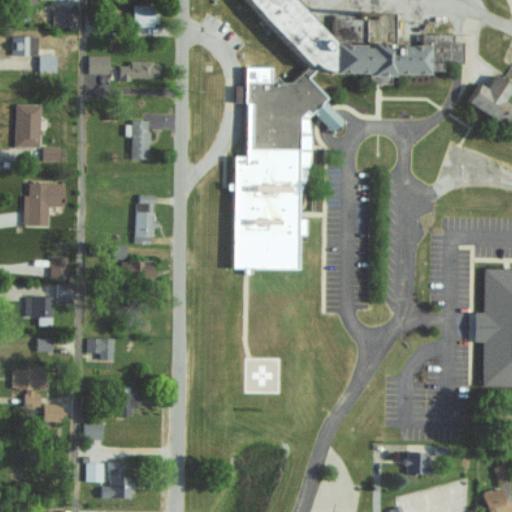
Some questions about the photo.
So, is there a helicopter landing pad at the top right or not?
No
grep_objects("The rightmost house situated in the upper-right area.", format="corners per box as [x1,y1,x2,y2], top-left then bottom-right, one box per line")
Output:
[474,70,512,124]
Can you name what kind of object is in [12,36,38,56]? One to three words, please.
house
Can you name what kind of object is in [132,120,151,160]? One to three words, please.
house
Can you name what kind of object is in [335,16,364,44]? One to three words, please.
building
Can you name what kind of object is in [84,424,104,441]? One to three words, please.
building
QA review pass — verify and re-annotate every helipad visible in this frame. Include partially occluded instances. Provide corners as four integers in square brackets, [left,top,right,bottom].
[244,357,281,394]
